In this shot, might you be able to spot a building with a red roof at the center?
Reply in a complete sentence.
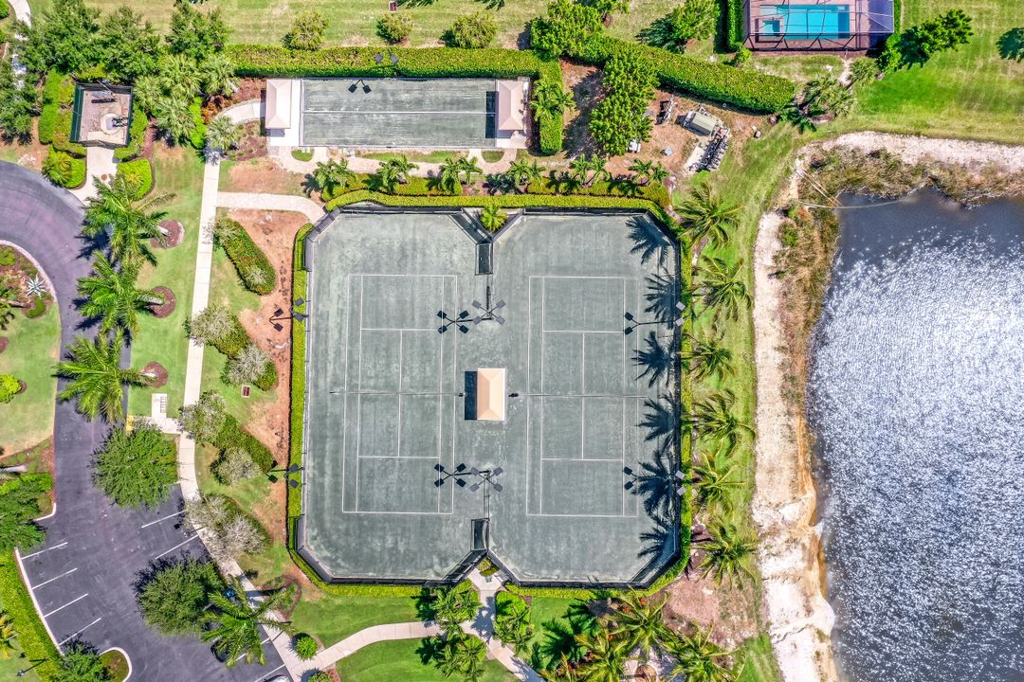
No, looking at the center, there is no building with a red roof.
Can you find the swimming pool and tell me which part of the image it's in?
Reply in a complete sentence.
The swimming pool appears toward the top right of the photo.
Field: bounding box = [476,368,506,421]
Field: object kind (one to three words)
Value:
building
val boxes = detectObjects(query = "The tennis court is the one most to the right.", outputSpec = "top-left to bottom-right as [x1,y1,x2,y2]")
[488,211,680,584]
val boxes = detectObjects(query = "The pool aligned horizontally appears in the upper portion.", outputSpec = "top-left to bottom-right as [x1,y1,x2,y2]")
[743,0,878,47]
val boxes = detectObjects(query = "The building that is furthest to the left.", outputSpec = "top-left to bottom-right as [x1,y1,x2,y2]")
[264,78,297,134]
